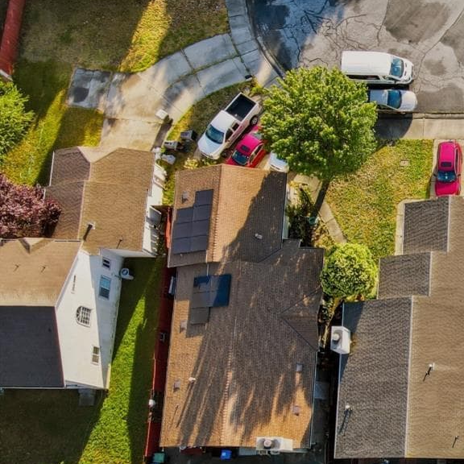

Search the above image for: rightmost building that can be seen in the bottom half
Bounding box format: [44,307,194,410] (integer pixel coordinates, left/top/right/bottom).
[331,196,464,459]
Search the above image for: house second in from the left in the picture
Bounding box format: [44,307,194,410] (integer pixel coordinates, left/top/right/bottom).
[159,164,329,450]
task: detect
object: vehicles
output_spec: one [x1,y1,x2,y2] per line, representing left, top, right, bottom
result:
[228,118,274,166]
[338,48,412,84]
[434,143,460,192]
[366,87,421,115]
[200,91,263,158]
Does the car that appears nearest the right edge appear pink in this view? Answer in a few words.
Yes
